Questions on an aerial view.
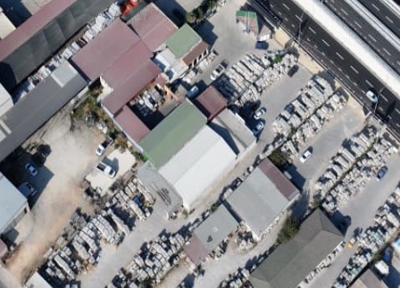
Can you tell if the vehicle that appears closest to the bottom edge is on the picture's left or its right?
right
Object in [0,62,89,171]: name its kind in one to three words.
building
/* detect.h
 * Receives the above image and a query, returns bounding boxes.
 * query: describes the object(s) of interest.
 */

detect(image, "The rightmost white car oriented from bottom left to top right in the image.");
[298,148,314,165]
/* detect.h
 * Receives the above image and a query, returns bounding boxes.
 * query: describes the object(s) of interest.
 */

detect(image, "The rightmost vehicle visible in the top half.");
[363,89,379,104]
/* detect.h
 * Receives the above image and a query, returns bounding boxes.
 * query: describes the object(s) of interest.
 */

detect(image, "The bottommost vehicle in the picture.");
[372,258,396,278]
